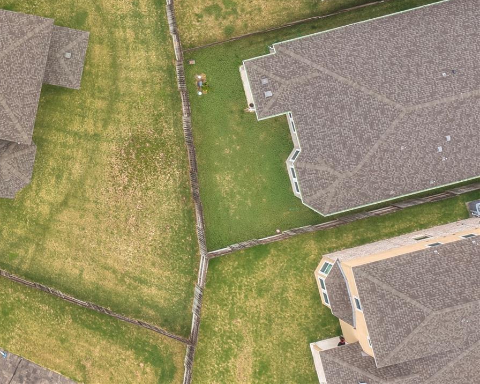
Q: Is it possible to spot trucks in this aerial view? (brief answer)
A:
No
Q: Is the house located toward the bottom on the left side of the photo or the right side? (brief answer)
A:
right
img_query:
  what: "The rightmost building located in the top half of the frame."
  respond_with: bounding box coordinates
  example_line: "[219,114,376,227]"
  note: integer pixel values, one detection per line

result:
[239,0,480,217]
